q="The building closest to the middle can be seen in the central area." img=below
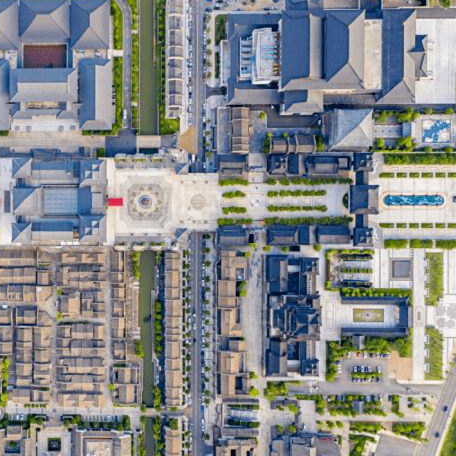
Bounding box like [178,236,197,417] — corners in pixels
[218,225,249,246]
